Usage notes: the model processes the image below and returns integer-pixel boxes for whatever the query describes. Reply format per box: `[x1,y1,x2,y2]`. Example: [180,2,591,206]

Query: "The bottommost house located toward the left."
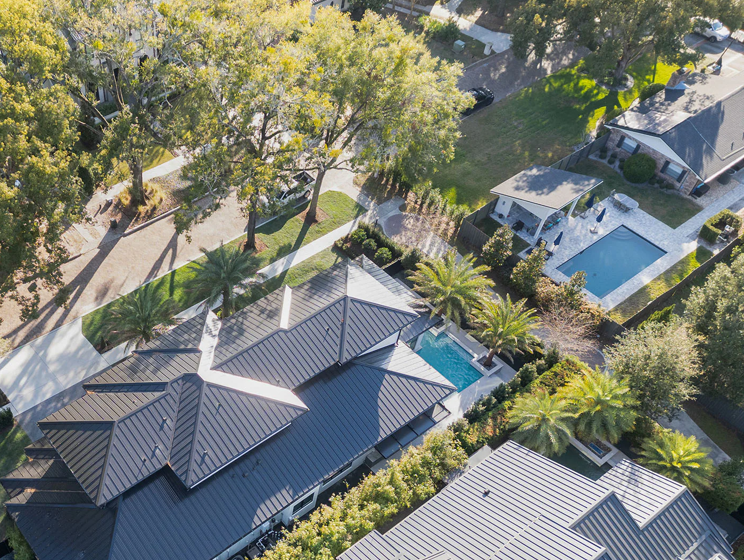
[0,255,478,560]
